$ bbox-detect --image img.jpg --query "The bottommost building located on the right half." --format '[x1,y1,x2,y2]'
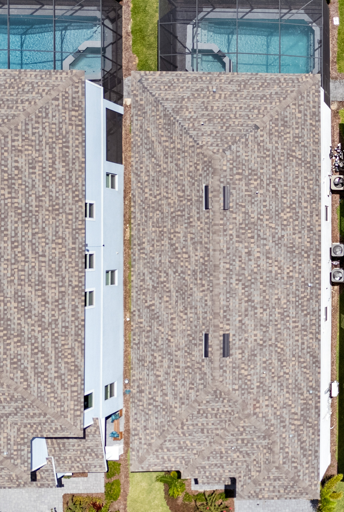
[131,72,334,499]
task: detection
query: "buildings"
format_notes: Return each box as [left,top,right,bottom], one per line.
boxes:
[0,70,124,488]
[131,72,334,499]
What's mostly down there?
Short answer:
buildings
